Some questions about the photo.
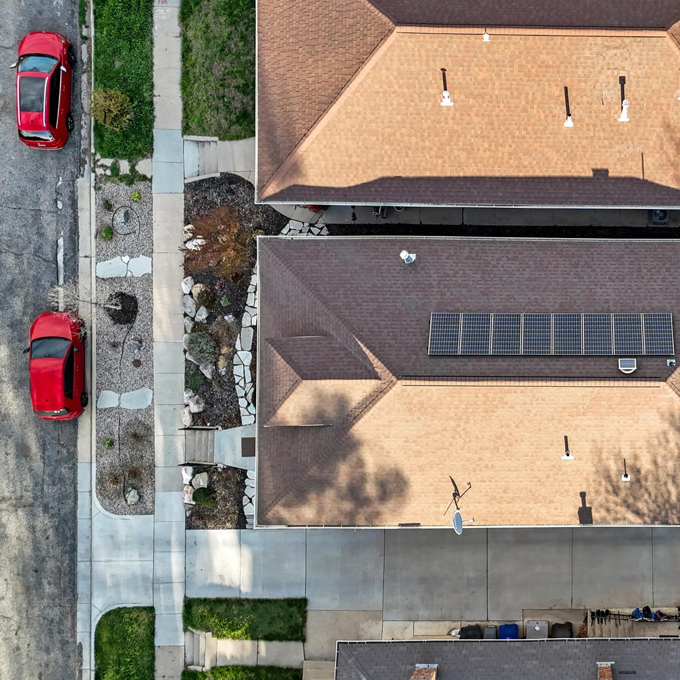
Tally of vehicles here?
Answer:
2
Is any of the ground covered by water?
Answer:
No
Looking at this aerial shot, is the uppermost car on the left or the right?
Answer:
left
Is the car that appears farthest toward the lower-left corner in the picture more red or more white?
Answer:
red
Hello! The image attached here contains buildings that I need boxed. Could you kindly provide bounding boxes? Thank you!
[256,236,680,529]
[256,0,680,208]
[297,632,680,680]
